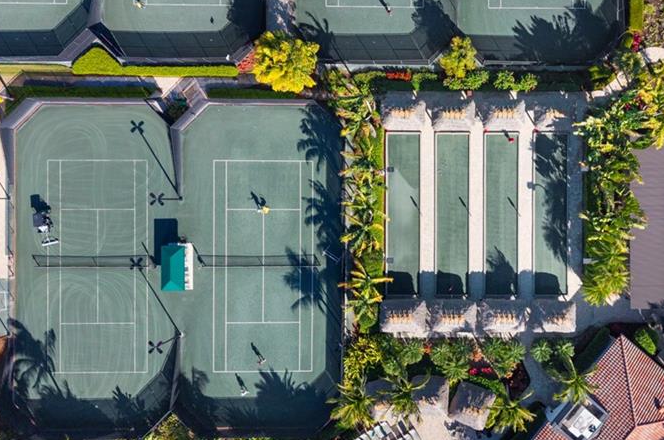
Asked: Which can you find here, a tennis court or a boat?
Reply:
tennis court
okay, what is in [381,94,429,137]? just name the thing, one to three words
shed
